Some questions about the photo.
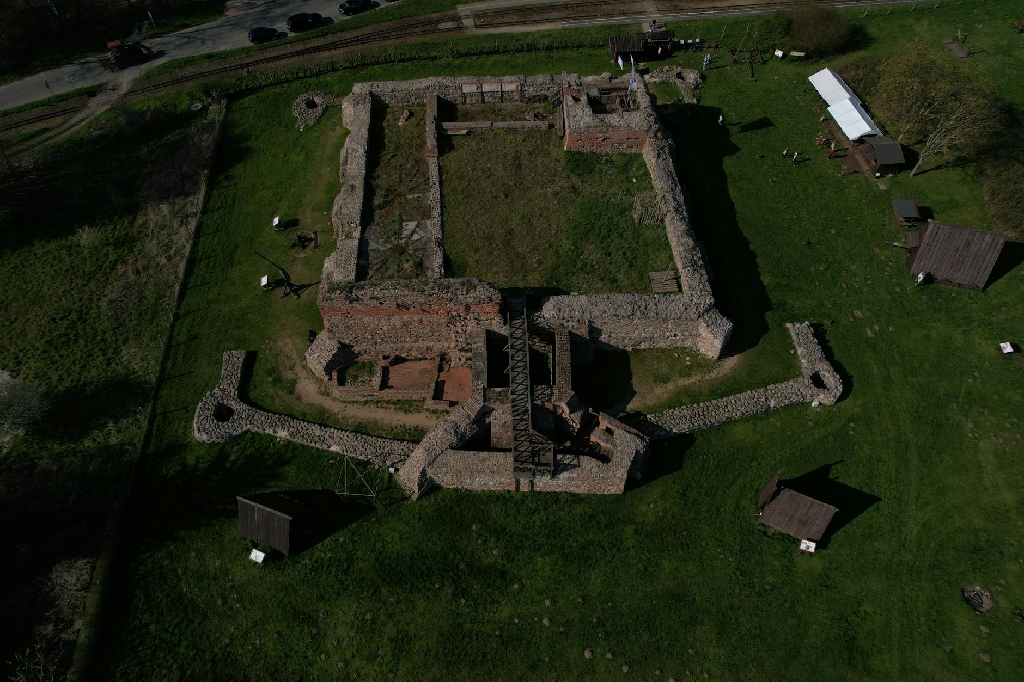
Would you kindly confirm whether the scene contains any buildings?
Yes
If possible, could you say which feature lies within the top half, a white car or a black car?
black car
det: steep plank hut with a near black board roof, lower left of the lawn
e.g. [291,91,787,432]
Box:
[233,494,313,557]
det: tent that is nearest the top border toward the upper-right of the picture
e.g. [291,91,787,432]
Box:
[795,67,864,126]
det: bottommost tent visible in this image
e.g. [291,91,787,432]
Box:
[813,98,885,160]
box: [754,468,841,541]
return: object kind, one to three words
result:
shed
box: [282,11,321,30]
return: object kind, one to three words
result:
car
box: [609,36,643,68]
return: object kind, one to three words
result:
shed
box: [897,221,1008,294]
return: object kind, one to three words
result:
building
